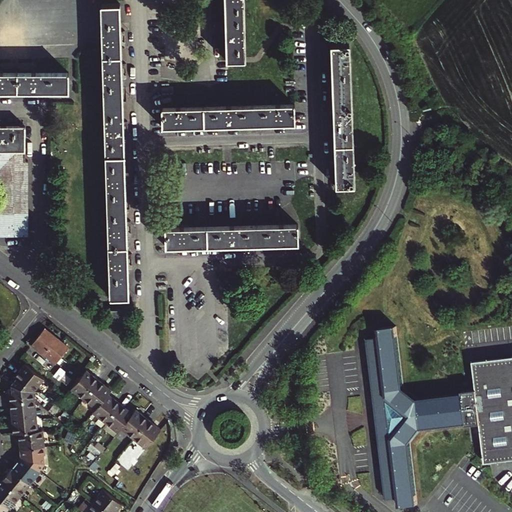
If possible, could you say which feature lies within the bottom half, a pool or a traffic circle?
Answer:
traffic circle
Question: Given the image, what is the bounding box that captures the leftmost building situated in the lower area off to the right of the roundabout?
[364,326,463,508]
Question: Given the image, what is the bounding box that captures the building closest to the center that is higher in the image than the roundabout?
[164,224,298,253]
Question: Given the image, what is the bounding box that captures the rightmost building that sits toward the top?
[330,46,355,192]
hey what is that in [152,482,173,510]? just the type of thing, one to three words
bus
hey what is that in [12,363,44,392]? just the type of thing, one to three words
house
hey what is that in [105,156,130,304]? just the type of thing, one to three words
building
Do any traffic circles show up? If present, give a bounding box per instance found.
[192,389,271,468]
